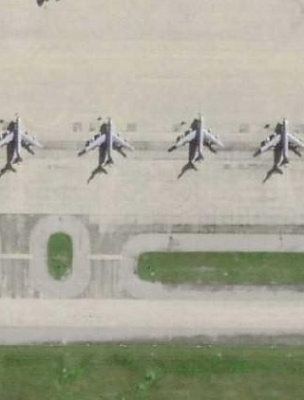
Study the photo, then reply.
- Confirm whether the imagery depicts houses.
No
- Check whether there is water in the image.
No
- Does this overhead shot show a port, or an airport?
airport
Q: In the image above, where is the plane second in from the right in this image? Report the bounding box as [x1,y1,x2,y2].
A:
[178,116,226,165]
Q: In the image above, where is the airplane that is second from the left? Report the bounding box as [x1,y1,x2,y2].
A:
[87,119,134,169]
